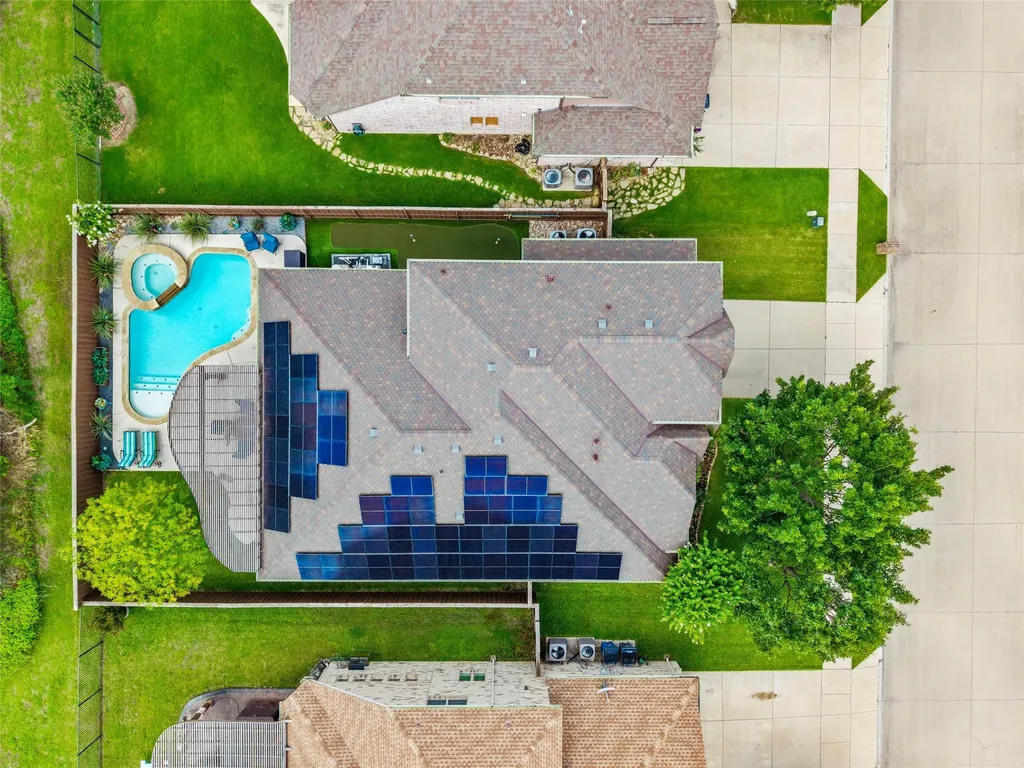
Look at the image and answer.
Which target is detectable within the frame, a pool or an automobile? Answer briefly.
pool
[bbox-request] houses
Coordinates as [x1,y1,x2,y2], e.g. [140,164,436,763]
[286,0,718,170]
[277,659,704,768]
[256,238,734,583]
